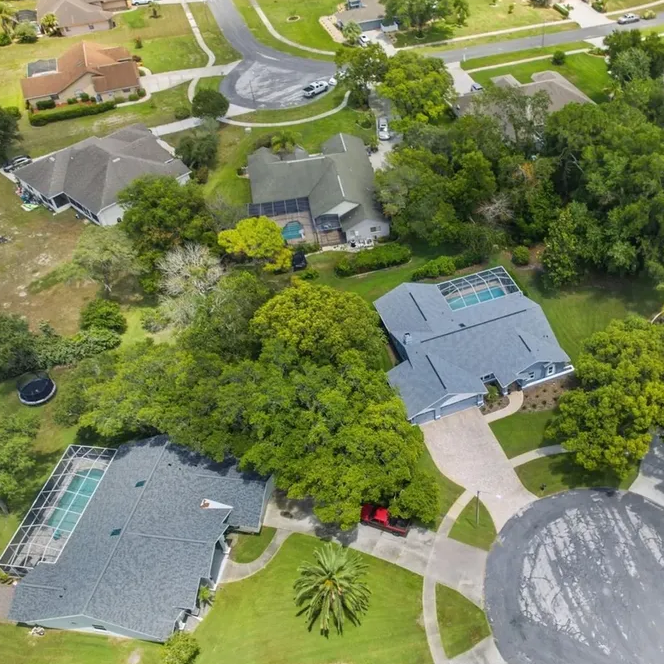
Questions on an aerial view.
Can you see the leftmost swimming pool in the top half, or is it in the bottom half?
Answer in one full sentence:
The leftmost swimming pool is in the bottom half of the image.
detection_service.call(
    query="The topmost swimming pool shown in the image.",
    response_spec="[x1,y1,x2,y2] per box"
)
[252,209,318,244]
